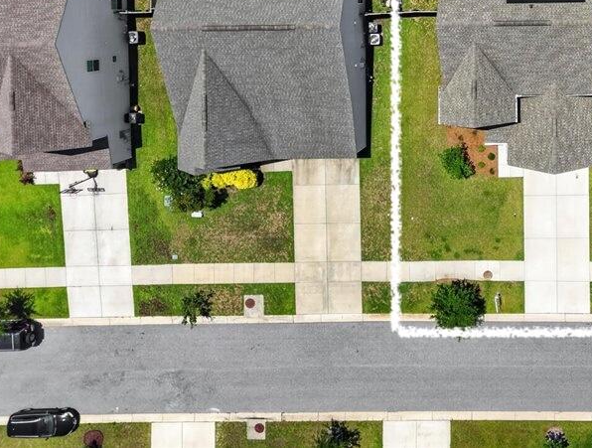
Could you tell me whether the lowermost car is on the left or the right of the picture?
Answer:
left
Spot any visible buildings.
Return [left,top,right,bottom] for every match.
[156,0,366,175]
[437,0,592,169]
[0,0,131,170]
